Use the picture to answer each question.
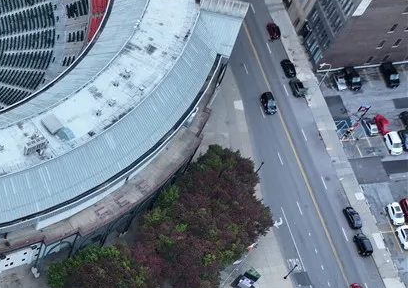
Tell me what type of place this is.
sports ground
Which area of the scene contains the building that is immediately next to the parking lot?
top right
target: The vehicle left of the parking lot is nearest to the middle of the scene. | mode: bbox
[260,92,277,112]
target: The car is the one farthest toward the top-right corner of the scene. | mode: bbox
[381,65,399,85]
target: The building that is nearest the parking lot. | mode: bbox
[282,0,408,74]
